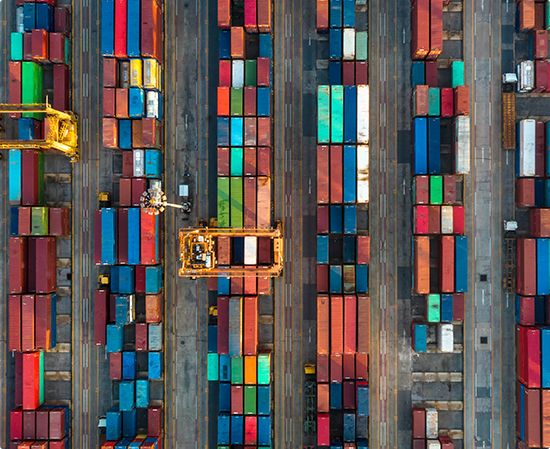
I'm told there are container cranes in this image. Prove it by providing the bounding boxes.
[0,91,78,166]
[178,220,284,279]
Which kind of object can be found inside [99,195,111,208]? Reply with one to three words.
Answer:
vehicle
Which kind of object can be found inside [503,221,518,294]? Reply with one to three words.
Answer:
vehicle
